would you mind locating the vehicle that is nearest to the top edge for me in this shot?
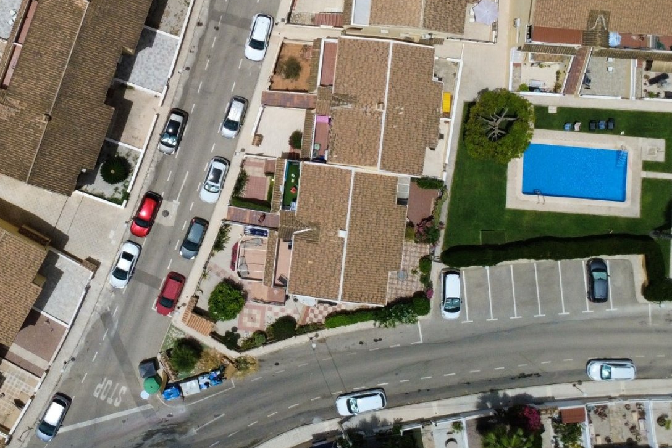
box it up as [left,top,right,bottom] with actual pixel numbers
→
[244,13,272,61]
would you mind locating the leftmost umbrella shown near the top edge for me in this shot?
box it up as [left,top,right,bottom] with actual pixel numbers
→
[473,0,497,27]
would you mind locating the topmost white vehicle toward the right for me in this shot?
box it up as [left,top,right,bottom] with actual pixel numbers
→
[438,269,465,318]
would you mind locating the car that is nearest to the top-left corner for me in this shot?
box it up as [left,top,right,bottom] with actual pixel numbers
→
[159,108,188,154]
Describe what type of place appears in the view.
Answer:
residential area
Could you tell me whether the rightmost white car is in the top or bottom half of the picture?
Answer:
bottom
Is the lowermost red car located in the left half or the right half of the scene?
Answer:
left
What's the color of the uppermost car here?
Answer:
white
